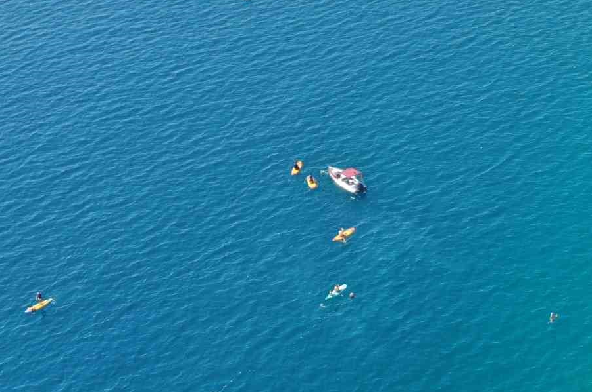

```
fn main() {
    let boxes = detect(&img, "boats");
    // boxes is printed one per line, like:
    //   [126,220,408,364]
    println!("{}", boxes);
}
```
[306,174,318,187]
[333,227,355,239]
[25,298,53,312]
[330,164,367,195]
[291,161,302,173]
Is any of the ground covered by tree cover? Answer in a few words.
No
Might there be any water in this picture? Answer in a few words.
Yes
